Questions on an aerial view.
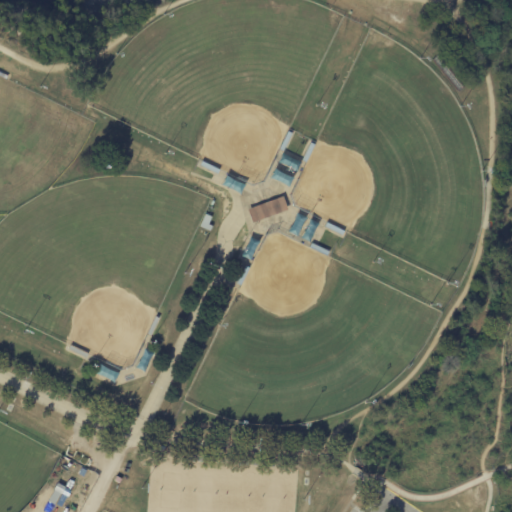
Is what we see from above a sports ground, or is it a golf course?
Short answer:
sports ground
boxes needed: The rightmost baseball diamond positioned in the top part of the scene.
[292,29,484,284]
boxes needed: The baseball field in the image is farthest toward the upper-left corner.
[0,76,94,213]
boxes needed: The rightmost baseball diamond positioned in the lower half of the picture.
[188,228,440,424]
